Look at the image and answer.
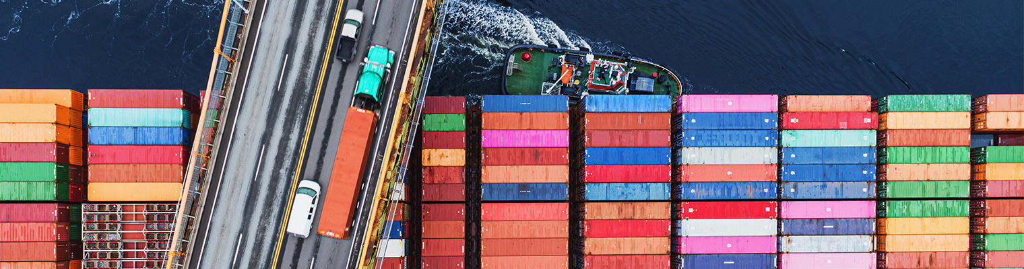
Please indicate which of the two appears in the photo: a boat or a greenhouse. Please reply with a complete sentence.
The image shows a boat.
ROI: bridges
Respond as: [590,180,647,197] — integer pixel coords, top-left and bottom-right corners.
[161,0,452,269]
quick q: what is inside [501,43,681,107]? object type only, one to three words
boat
